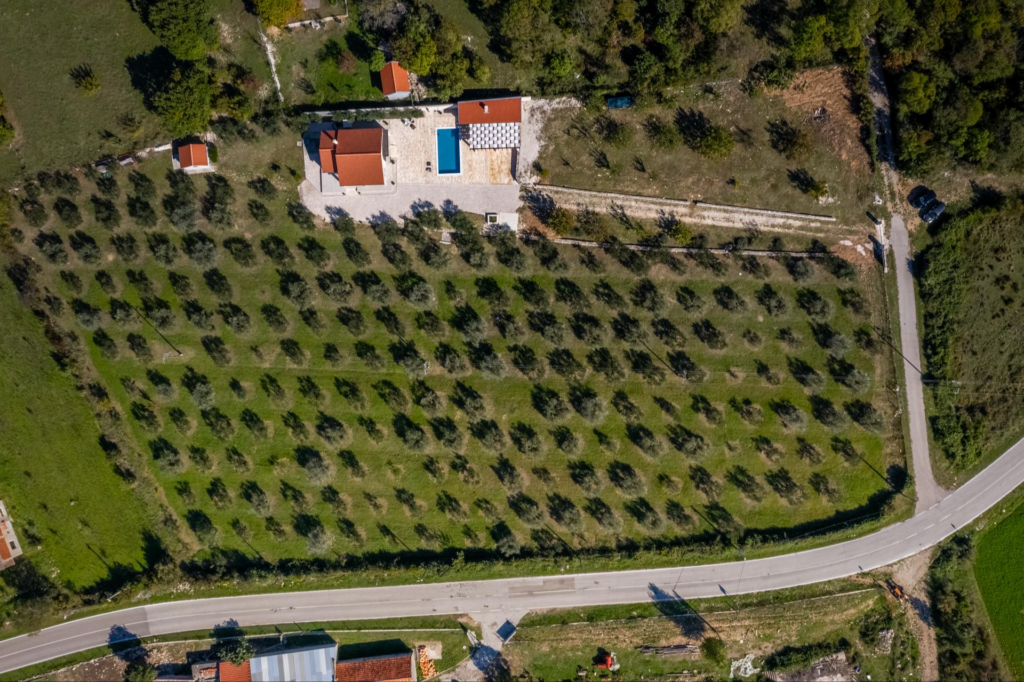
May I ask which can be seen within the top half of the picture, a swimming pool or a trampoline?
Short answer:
swimming pool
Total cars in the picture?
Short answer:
2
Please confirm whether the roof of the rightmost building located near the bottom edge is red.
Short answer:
Yes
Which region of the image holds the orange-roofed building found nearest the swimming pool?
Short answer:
top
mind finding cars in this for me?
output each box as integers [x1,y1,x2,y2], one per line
[922,202,945,223]
[913,187,936,209]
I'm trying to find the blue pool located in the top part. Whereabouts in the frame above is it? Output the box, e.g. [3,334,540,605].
[432,124,462,177]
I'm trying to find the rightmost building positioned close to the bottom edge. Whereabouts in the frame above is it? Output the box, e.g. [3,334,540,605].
[338,650,417,682]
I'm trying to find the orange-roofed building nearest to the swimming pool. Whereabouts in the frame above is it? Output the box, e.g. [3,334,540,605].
[458,97,522,126]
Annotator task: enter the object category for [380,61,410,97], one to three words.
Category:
shed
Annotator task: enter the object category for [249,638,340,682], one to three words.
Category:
barn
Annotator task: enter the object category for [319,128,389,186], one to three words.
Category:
house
